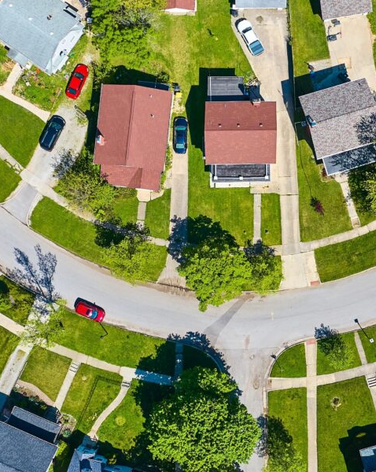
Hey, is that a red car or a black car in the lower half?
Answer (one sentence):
Looking in the lower half, you will find a red car.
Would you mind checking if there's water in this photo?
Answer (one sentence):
No, no water is visible.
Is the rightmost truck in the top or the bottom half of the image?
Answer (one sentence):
The top half of the photo is where the rightmost truck is.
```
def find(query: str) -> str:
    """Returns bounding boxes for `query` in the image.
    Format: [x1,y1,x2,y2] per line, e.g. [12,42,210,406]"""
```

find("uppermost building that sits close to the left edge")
[0,0,86,72]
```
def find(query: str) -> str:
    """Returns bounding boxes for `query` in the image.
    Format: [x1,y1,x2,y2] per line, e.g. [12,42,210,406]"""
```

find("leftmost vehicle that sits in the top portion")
[39,114,65,151]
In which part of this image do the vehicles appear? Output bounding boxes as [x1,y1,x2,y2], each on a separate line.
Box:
[64,64,88,100]
[235,17,266,58]
[39,114,65,151]
[172,117,189,153]
[73,299,107,321]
